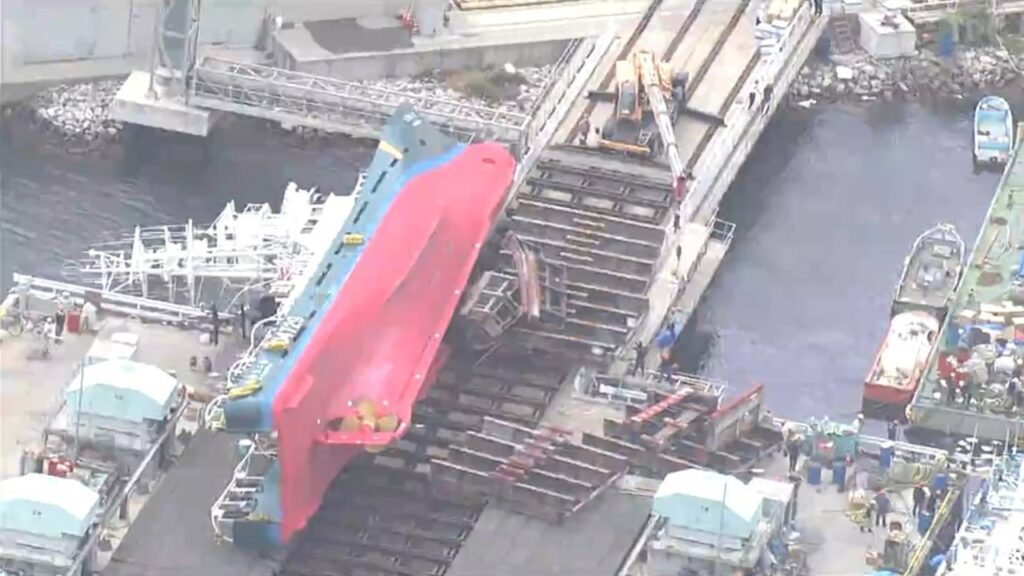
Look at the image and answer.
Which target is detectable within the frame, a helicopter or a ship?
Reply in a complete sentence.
I can see a ship in this picture.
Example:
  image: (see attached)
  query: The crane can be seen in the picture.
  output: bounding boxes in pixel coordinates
[575,51,733,238]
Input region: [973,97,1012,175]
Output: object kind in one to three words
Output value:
boat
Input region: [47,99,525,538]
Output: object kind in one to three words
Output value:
ship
